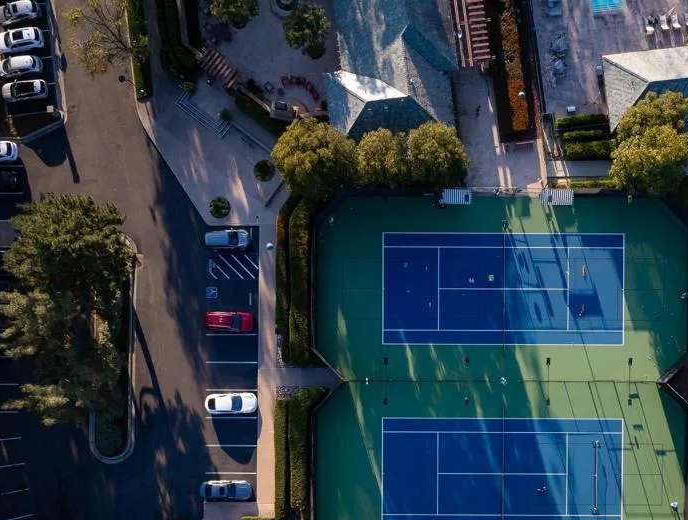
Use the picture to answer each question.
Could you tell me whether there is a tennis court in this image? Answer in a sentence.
Yes, there's a tennis court down there.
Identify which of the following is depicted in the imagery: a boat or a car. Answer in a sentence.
I can see a car in this picture.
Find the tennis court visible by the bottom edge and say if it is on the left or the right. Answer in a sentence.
It is on the right.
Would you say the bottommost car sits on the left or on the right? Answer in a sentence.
You can find the bottommost car on the left side of the picture.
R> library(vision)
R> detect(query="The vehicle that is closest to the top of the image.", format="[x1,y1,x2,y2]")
[0,0,45,29]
